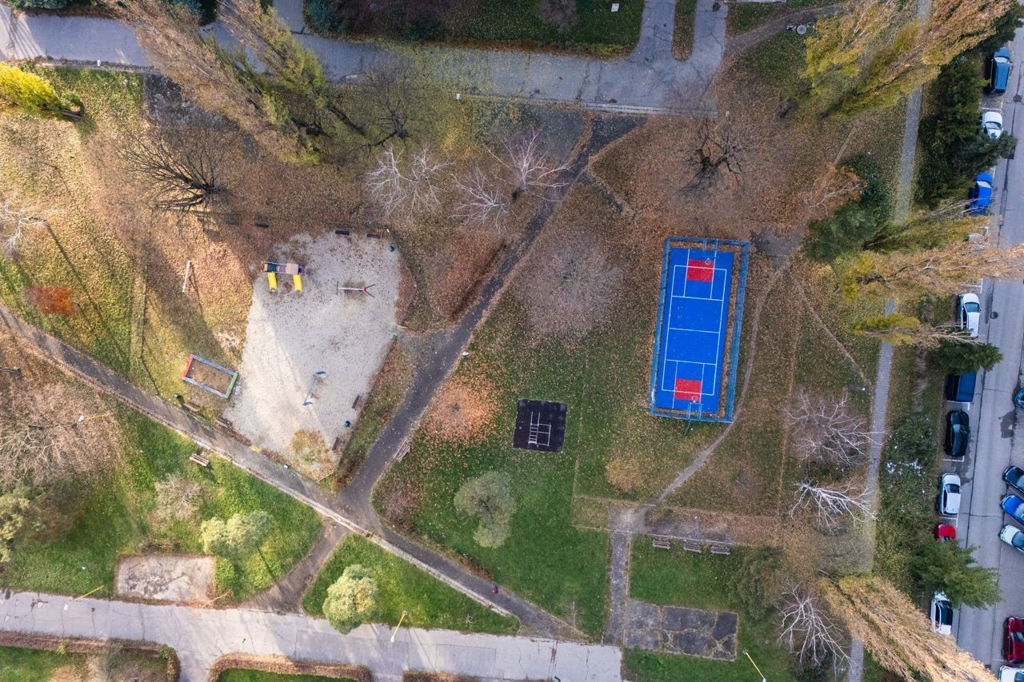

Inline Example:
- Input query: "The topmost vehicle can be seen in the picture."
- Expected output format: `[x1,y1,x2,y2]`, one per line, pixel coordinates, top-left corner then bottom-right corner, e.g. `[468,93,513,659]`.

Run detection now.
[983,48,1013,97]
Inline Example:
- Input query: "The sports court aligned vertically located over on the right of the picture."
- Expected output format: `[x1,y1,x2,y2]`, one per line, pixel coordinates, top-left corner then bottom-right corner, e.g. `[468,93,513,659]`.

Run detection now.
[656,247,734,414]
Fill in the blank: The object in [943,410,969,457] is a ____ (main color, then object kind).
black car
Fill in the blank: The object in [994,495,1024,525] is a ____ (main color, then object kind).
blue car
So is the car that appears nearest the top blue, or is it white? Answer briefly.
blue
